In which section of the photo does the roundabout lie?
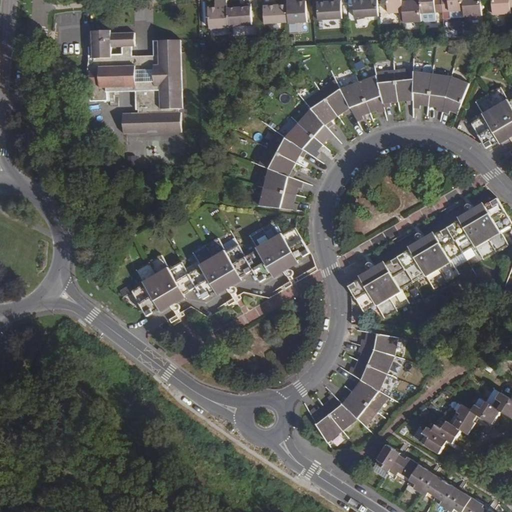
bottom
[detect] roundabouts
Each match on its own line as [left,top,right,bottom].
[220,381,308,464]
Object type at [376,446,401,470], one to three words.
house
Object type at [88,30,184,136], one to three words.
building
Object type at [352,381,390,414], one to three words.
house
